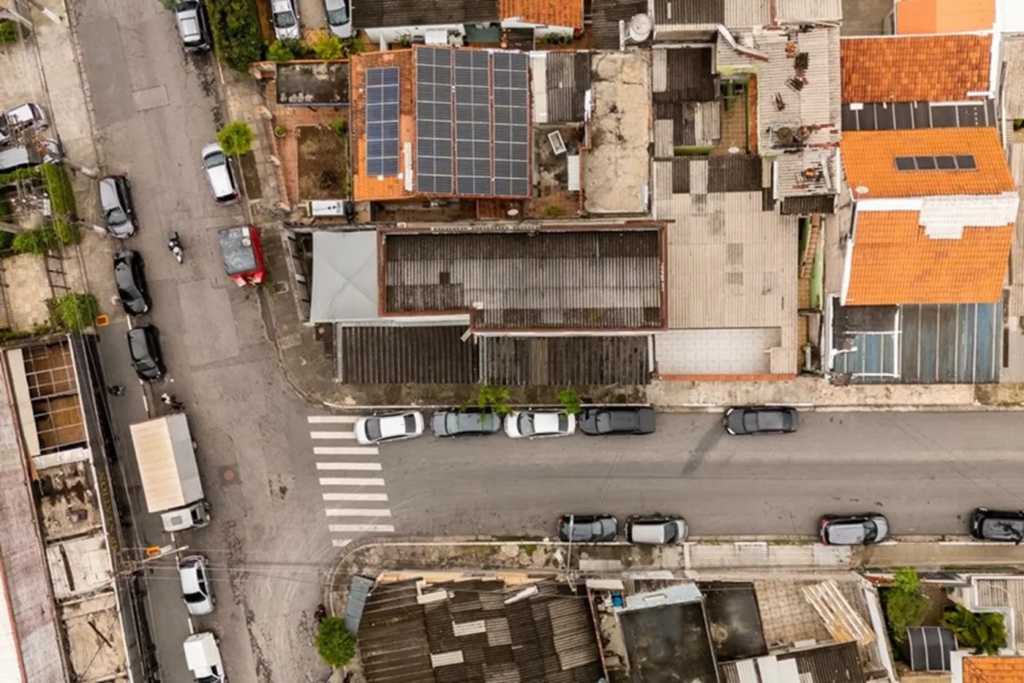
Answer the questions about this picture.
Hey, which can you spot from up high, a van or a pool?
van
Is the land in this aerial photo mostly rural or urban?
urban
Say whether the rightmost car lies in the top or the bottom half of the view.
bottom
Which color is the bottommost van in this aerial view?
white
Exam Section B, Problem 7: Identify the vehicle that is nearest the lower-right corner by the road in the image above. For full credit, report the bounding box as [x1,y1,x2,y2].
[966,508,1024,544]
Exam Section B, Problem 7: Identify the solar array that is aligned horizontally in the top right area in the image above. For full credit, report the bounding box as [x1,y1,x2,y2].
[895,156,977,171]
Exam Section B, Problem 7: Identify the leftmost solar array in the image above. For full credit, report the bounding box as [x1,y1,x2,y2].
[366,67,399,176]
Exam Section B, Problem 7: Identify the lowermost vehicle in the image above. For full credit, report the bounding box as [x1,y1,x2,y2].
[181,623,241,683]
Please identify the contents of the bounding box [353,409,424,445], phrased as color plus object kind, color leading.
white car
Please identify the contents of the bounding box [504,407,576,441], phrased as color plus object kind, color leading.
white car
